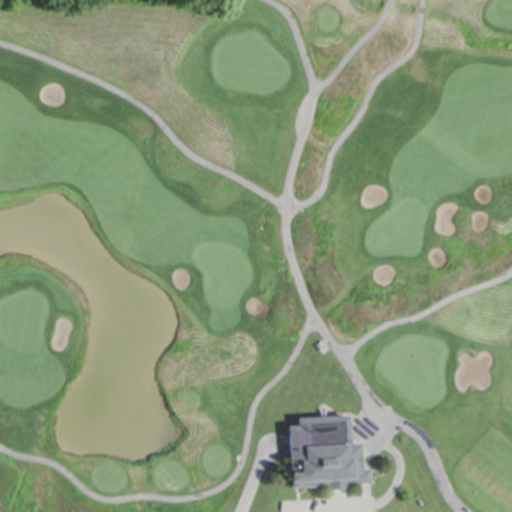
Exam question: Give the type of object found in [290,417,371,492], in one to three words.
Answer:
building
